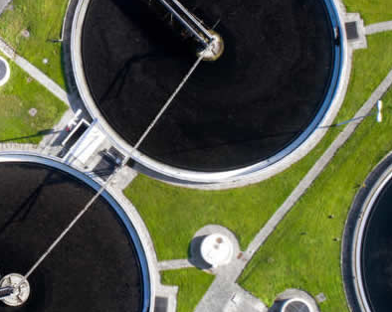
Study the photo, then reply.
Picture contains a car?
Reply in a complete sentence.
No, the scene contains no car.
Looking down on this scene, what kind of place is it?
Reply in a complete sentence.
This image shows an industrial area.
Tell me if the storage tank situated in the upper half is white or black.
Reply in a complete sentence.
The storage tank situated in the upper half is black.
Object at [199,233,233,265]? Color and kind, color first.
white storage tank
